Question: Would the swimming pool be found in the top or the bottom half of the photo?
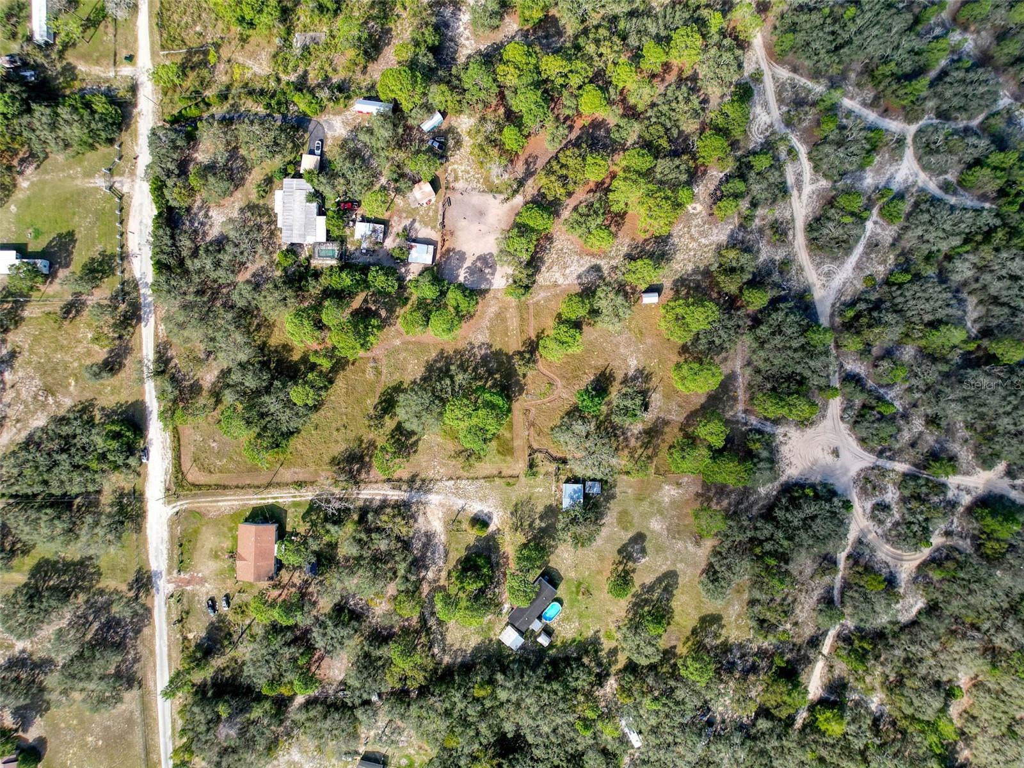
bottom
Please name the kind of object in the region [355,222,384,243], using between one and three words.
shed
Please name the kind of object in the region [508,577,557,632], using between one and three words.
house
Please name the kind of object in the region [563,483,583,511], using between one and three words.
barn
